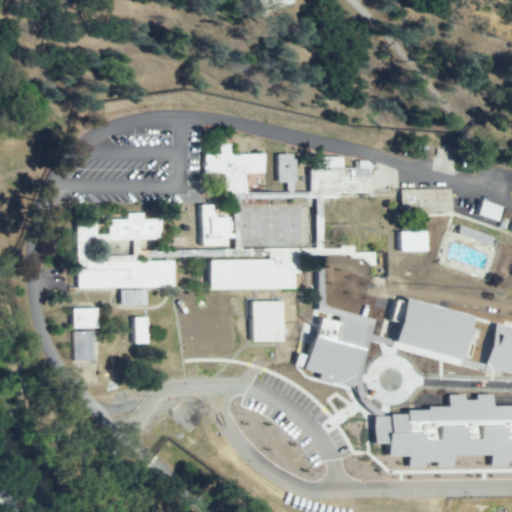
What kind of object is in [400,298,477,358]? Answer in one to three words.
building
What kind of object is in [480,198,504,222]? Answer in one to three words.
shed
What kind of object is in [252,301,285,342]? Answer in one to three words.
building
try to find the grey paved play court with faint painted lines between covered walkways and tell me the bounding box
[244,205,301,247]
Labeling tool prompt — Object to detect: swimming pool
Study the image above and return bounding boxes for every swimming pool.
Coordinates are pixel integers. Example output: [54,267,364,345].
[438,228,497,279]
